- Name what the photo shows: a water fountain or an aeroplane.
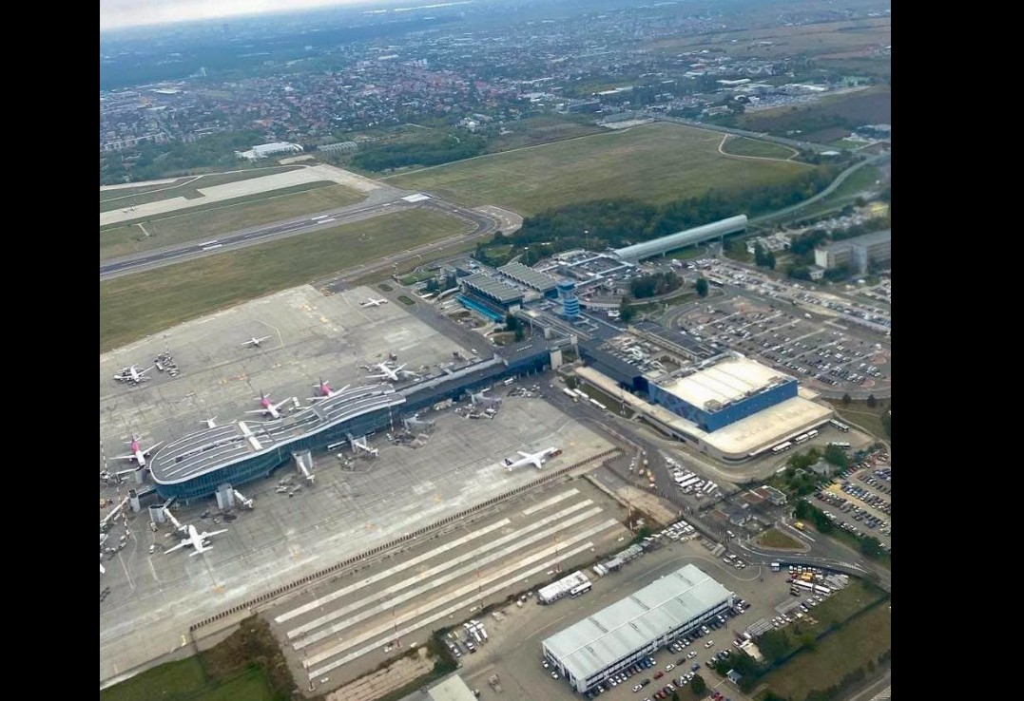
aeroplane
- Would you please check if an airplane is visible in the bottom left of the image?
Yes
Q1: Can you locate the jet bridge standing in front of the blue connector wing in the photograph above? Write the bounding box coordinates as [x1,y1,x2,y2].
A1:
[465,389,503,410]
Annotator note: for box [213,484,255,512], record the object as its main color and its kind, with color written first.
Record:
gray jet bridge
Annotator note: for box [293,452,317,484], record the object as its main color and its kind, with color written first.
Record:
gray jet bridge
